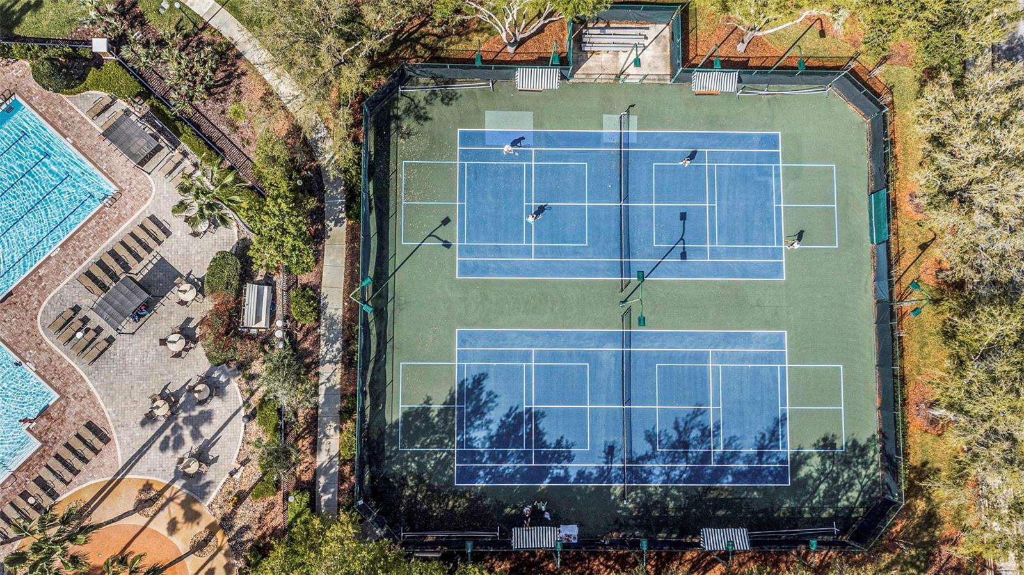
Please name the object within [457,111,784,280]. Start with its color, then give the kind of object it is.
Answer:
blue tennis court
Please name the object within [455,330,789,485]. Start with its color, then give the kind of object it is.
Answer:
blue tennis court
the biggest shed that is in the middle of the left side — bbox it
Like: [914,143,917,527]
[241,284,277,332]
